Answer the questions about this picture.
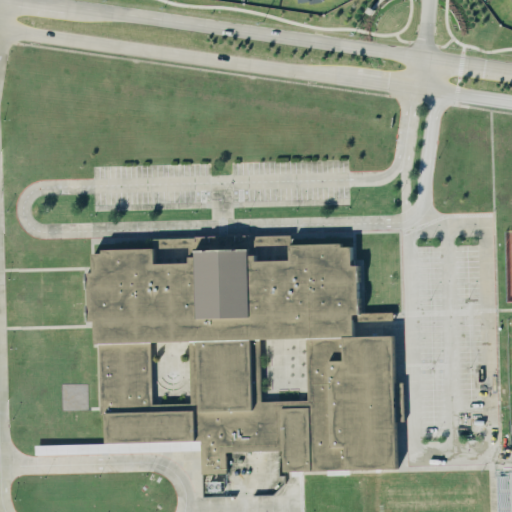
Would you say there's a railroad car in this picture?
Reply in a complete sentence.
No, I can't see a single railroad car in this photo.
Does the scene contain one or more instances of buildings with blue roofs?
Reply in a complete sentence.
No, the picture doesn't show any building with a blue roof.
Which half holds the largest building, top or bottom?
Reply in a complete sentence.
Seen from above, the largest building lies in the bottom half of the view.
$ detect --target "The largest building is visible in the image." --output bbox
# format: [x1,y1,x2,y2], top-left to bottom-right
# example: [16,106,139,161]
[86,236,406,476]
